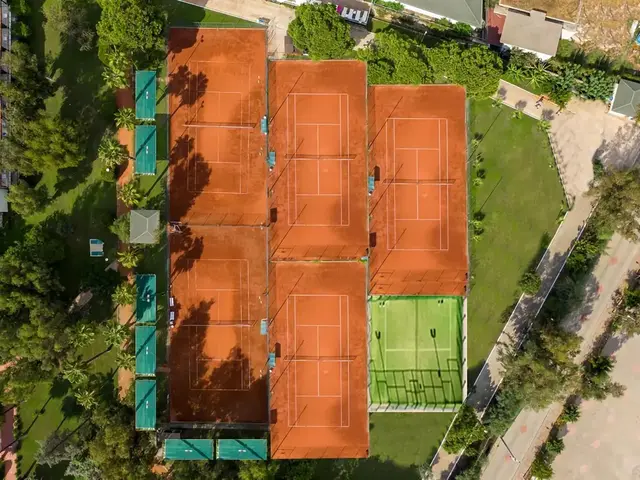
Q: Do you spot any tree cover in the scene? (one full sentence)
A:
Yes, tree cover shows up in the scene.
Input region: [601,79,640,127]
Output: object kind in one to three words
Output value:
building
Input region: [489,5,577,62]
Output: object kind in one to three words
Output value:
house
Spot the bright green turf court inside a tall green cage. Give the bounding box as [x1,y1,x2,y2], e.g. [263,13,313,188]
[369,296,468,412]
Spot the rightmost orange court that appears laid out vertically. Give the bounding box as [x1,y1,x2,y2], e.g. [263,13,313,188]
[368,85,468,295]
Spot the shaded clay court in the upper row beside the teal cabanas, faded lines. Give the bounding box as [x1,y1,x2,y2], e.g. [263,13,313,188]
[168,28,268,225]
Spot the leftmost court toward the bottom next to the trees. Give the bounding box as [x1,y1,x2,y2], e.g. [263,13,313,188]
[168,225,268,424]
